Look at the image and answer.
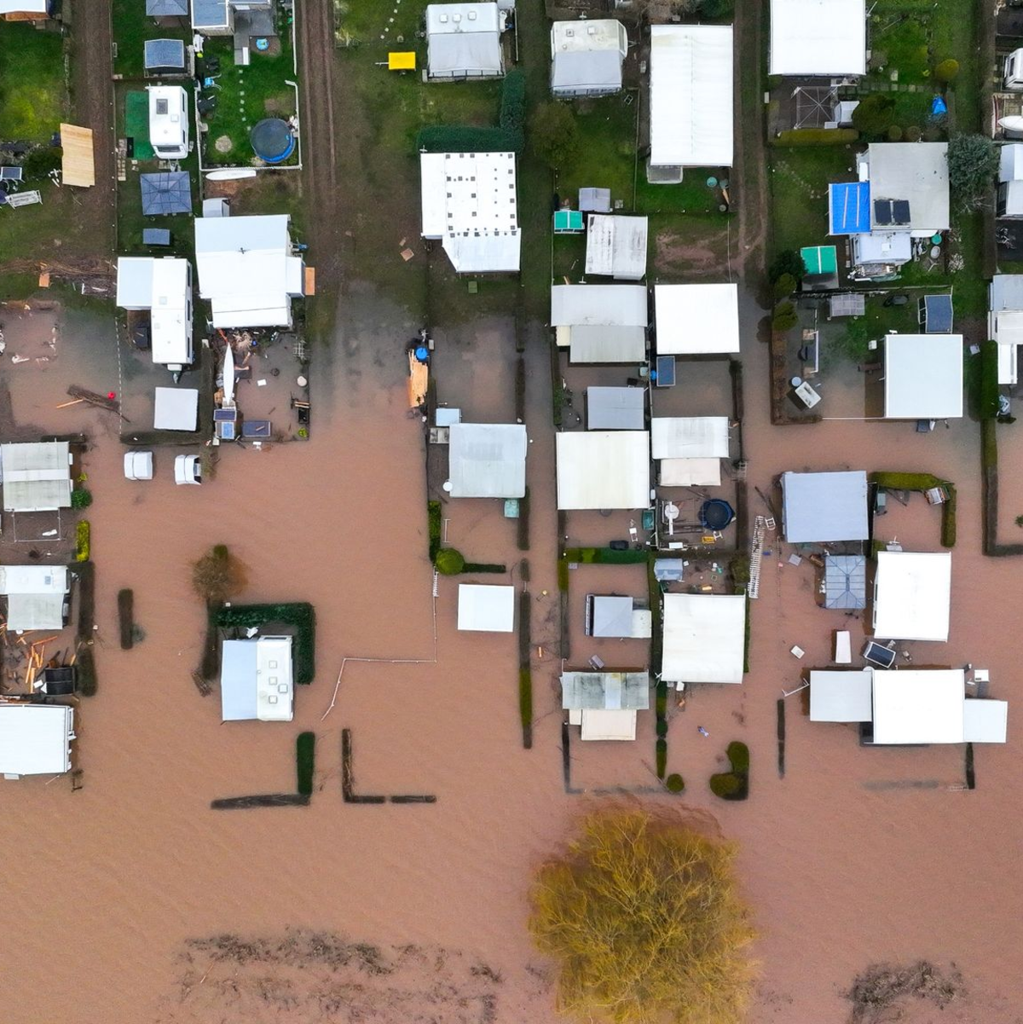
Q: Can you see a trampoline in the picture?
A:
Yes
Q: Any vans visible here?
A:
Yes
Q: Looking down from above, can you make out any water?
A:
Yes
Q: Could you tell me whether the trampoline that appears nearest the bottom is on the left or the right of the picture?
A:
right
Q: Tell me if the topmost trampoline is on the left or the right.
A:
left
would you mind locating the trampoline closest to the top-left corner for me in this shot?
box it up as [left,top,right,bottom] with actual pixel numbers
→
[250,118,296,163]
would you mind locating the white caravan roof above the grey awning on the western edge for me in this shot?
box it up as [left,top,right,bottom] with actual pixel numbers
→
[0,564,80,595]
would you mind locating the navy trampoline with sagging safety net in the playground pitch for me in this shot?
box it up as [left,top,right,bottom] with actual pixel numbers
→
[699,496,737,532]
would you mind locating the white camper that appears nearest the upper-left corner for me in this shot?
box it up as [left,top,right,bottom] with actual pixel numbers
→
[150,87,191,171]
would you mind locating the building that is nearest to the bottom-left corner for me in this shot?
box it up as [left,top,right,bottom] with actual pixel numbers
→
[0,704,76,774]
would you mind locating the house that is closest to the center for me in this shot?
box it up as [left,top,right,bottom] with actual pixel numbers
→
[448,424,526,497]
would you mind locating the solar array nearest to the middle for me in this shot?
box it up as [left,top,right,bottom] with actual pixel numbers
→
[657,356,675,386]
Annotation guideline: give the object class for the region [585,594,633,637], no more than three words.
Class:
building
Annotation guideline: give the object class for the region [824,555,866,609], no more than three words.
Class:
gazebo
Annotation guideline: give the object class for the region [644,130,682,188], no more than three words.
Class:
camper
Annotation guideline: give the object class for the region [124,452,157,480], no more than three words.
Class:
van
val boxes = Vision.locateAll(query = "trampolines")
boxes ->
[699,496,737,532]
[250,118,296,163]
